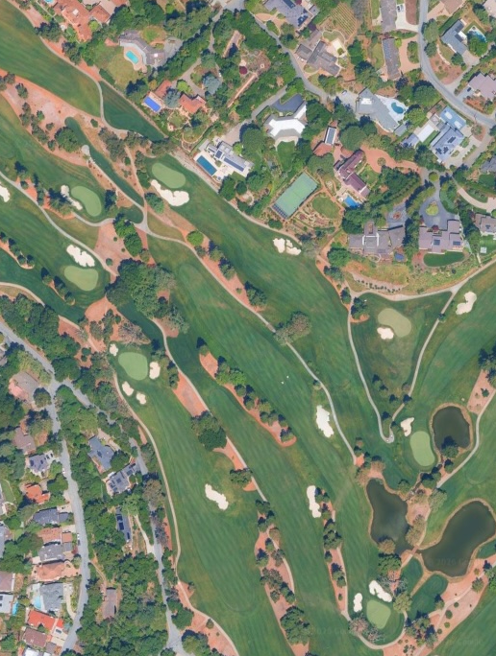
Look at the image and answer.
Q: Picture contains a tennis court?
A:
Yes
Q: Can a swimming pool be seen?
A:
Yes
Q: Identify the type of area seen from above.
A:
golf course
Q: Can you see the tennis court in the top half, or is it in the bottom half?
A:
top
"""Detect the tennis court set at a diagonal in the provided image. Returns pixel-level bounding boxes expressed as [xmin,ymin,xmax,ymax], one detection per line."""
[273,173,318,217]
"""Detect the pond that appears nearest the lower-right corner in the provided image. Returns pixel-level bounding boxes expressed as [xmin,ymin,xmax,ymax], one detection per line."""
[419,499,496,578]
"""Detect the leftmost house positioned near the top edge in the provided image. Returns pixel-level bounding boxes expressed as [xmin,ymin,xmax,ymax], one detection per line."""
[49,0,113,43]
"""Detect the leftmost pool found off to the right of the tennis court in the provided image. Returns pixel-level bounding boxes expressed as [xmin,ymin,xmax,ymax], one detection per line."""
[342,192,361,210]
